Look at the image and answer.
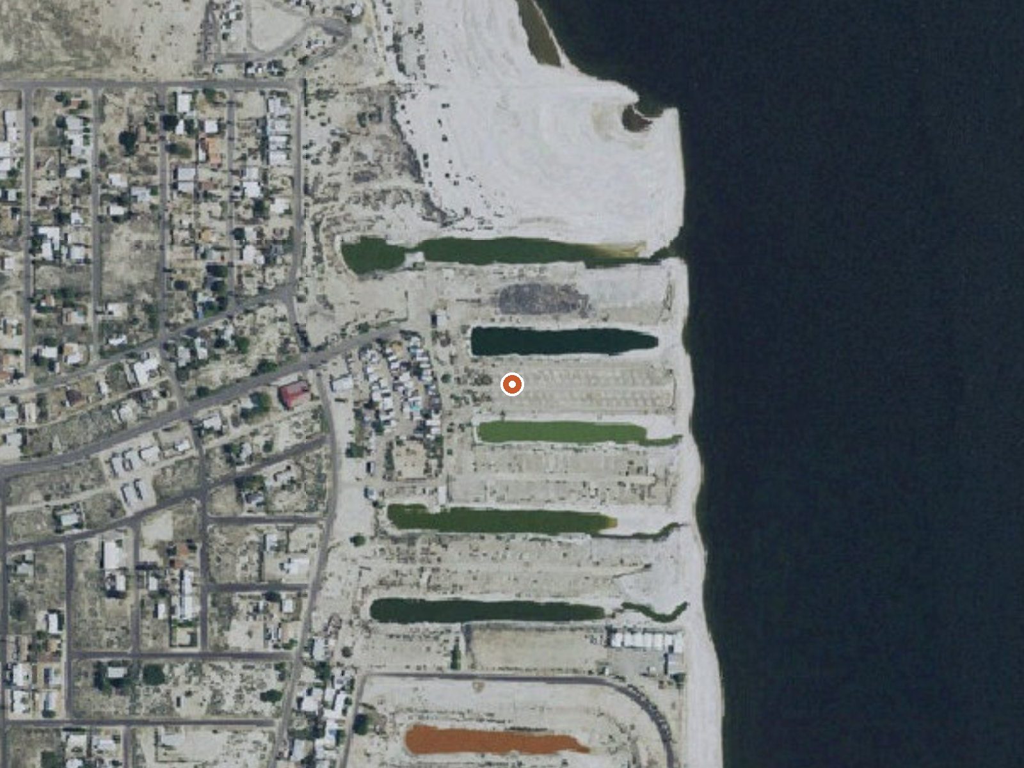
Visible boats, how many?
0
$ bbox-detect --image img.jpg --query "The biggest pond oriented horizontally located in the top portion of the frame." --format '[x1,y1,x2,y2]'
[341,237,662,273]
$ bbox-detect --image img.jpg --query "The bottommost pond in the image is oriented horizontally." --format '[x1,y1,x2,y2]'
[406,724,590,754]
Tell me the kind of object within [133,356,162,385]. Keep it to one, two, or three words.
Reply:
house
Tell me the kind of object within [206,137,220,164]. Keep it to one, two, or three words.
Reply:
house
